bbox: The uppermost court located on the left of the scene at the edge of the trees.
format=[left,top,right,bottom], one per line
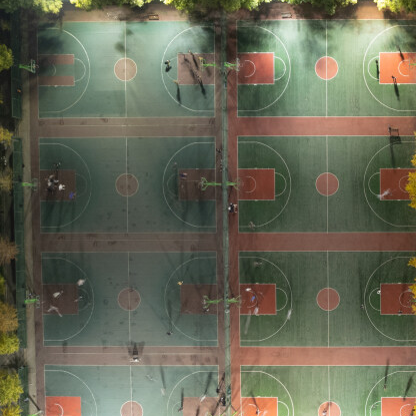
[37,21,216,117]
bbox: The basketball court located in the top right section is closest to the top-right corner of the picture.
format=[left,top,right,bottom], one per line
[236,21,416,117]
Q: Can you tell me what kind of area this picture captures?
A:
sports ground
